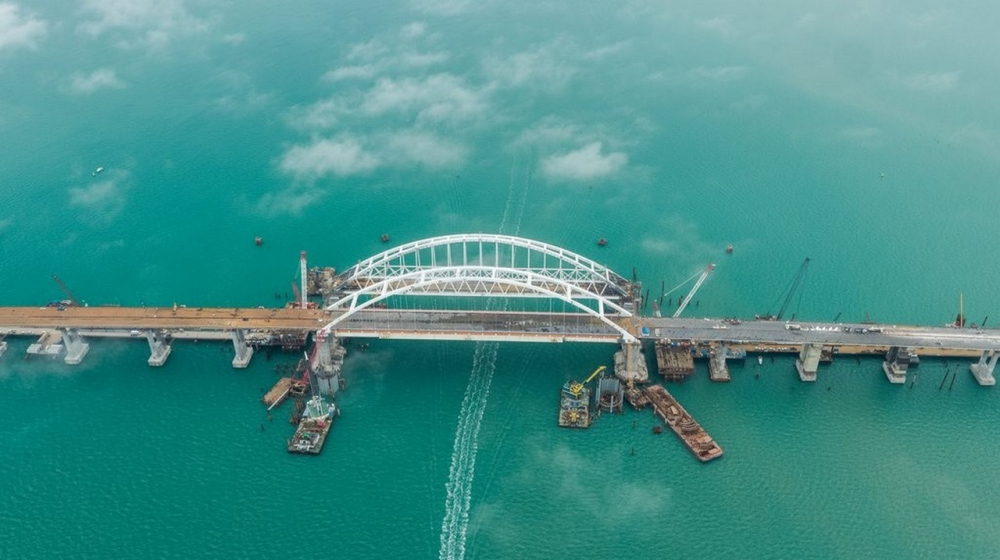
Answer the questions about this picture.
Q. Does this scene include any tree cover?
No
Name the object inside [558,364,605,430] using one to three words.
ship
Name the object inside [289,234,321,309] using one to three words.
ship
